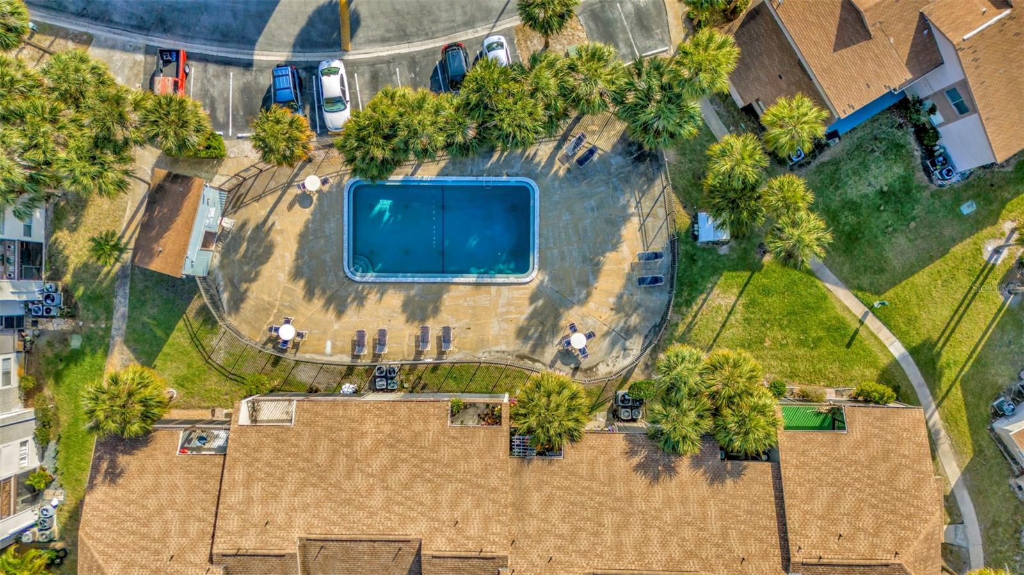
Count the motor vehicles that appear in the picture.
5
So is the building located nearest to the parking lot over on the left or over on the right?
left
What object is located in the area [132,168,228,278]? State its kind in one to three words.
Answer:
building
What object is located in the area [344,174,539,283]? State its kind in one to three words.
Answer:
swimming pool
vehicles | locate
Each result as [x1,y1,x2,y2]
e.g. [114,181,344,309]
[314,55,347,130]
[267,53,301,118]
[484,25,516,88]
[150,42,186,124]
[439,33,470,84]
